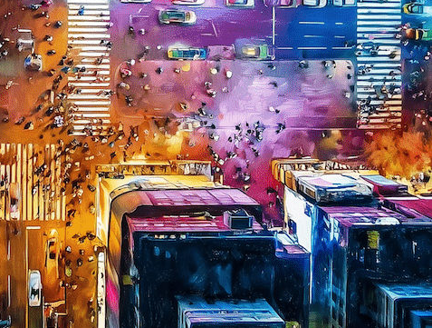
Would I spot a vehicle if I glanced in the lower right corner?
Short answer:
No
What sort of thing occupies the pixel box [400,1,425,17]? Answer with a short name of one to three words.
car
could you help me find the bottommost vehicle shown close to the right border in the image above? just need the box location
[399,25,431,42]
